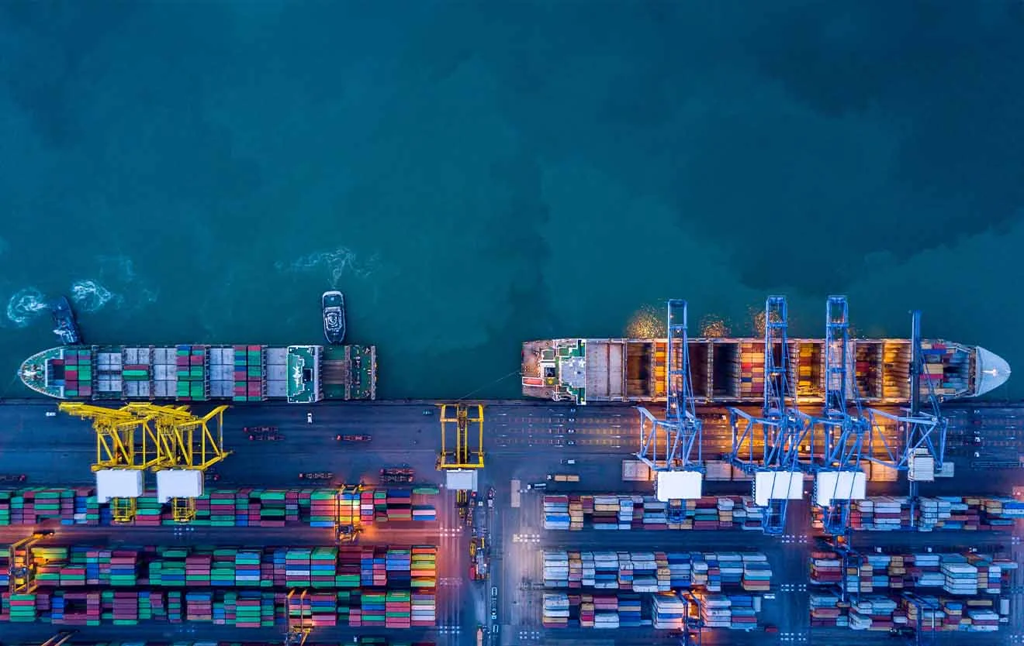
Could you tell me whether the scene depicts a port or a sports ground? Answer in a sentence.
The picture captures a port.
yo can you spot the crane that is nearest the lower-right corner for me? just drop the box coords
[894,586,938,646]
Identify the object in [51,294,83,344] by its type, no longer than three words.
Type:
boat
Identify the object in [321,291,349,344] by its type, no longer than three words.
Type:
boat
